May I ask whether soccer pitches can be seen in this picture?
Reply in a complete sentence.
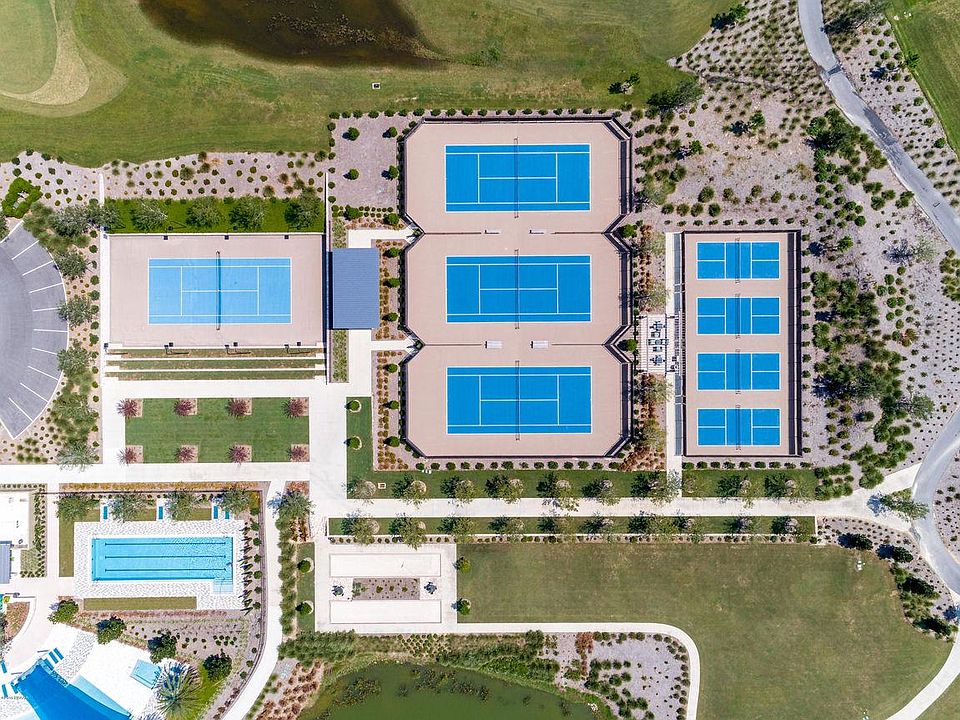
No, no soccer pitch can be seen from above.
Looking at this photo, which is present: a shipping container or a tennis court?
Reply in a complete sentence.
Visible in the photo is a tennis court.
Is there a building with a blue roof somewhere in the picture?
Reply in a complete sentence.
Yes, looking at the shot, I can spot a building with a blue roof.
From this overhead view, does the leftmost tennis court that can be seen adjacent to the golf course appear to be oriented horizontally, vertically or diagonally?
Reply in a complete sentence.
In this picture, the leftmost tennis court that can be seen adjacent to the golf course is oriented horizontally.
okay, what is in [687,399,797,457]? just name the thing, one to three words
sports court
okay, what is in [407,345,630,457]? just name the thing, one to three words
tennis court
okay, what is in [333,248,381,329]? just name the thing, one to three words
building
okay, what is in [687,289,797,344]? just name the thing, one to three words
sports court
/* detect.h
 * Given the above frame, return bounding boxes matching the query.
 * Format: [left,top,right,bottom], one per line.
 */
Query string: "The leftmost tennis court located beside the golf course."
[112,237,327,347]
